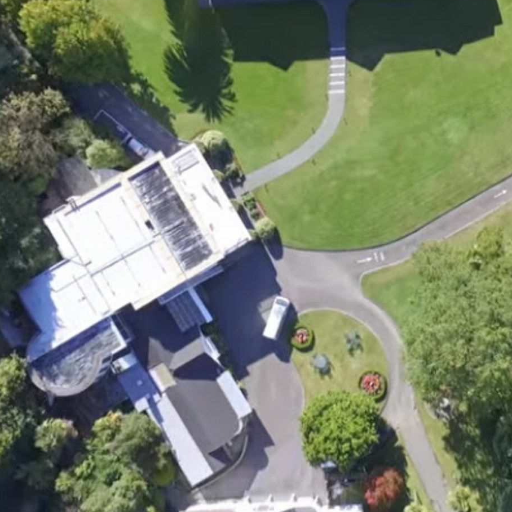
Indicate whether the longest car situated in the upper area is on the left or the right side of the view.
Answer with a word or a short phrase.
left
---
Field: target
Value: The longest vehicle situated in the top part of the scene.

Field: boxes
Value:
[127,134,154,157]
